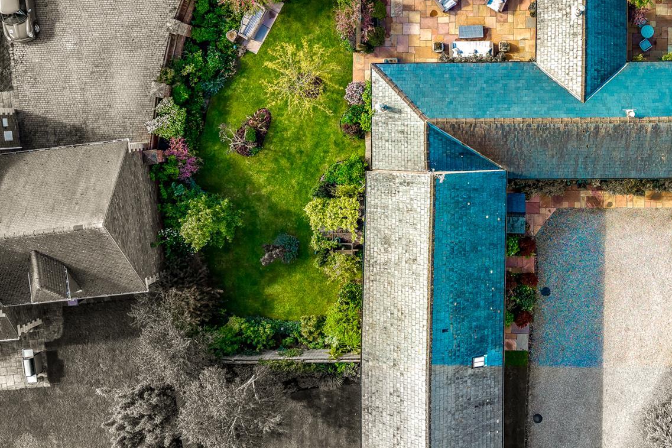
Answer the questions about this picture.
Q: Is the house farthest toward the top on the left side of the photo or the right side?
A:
right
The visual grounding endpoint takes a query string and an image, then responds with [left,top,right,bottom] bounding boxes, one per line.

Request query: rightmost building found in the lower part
[364,166,508,448]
